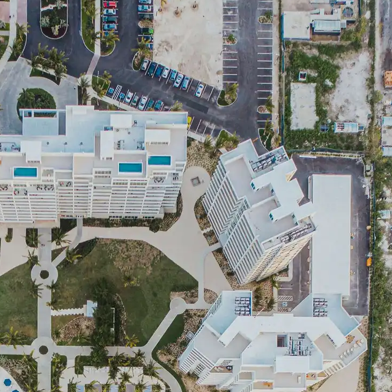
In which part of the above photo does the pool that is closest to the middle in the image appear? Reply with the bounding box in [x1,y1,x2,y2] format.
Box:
[146,155,173,167]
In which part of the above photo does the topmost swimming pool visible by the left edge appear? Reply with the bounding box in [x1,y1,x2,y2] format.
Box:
[12,166,39,179]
